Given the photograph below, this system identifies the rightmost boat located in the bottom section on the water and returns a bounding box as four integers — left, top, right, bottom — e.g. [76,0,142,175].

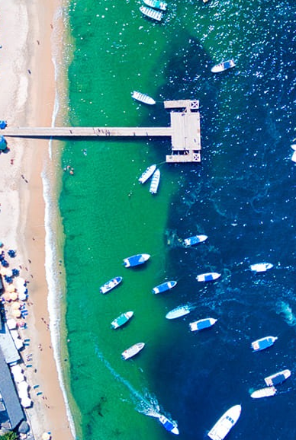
[265,371,292,386]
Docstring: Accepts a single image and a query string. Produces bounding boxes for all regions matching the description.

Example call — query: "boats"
[195,272,221,283]
[109,312,134,331]
[265,371,292,386]
[208,404,240,440]
[249,262,273,271]
[250,338,277,353]
[189,318,217,333]
[250,386,278,398]
[122,255,151,269]
[144,0,169,10]
[150,169,160,195]
[137,165,156,185]
[140,8,163,21]
[165,305,192,318]
[211,59,237,71]
[99,278,122,293]
[131,90,155,104]
[152,281,178,296]
[183,236,208,247]
[157,414,179,434]
[121,343,144,361]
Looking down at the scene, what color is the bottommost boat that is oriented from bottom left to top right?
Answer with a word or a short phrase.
white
